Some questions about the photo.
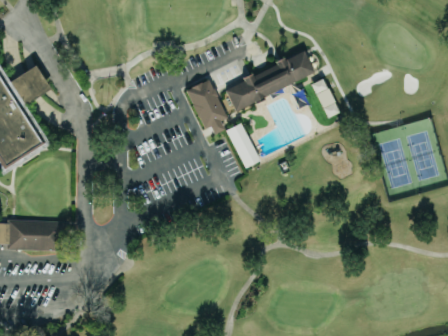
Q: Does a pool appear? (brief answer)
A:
Yes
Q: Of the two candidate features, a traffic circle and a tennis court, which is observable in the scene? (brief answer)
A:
tennis court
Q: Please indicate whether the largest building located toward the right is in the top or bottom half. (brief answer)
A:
top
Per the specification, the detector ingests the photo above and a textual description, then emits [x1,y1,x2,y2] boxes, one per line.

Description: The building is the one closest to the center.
[227,124,260,169]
